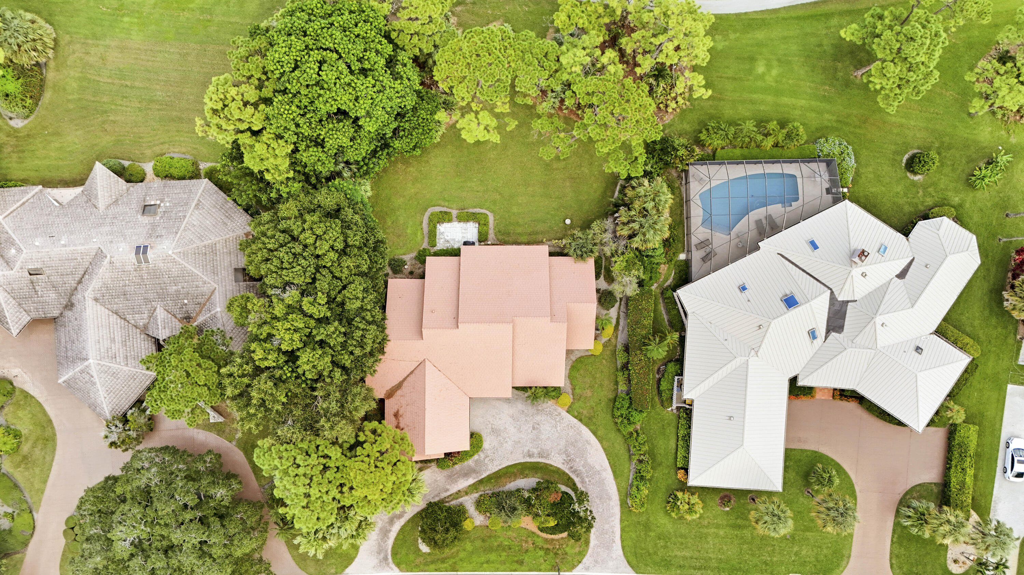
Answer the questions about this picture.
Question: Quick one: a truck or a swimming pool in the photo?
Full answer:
The one in the frame is a swimming pool.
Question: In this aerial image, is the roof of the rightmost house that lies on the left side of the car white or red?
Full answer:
From above, the roof of the rightmost house that lies on the left side of the car appears white.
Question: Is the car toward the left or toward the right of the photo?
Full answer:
The car is on the right side of the image.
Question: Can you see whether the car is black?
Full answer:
No, the car is white.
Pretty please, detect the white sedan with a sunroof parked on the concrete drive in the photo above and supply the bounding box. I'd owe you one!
[1004,433,1024,480]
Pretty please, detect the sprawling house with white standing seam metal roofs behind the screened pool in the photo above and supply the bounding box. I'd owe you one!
[677,199,982,493]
